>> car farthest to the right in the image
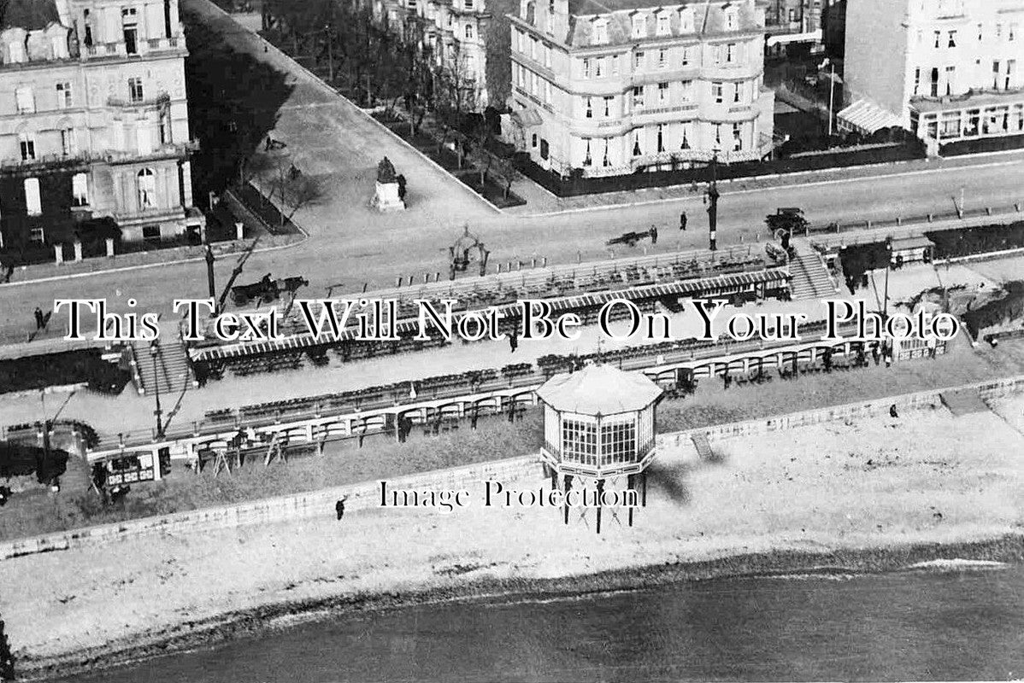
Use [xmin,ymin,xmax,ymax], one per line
[758,209,805,237]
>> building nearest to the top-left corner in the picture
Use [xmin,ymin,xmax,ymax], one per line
[0,0,213,253]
